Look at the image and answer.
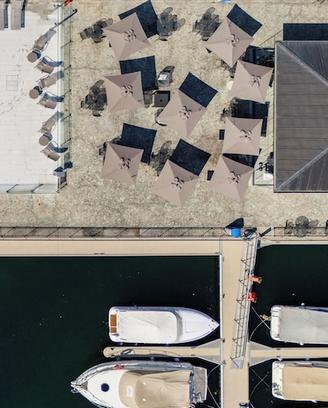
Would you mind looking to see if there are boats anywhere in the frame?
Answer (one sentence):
Yes, the frame does contain a boat.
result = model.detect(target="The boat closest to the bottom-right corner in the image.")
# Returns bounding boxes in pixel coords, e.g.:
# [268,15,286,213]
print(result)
[250,357,328,408]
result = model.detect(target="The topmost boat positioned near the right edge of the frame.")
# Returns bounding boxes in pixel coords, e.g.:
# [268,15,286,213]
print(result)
[248,299,328,345]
